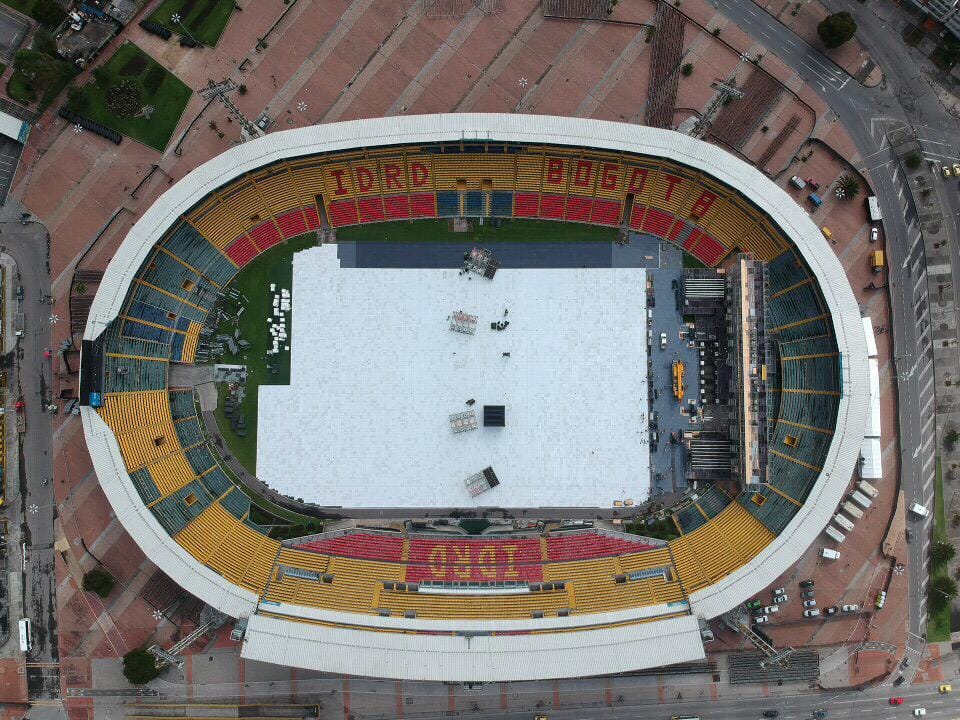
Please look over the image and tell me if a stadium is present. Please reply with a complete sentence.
Yes, there's a stadium here.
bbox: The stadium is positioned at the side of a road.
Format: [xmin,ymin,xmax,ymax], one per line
[79,112,871,682]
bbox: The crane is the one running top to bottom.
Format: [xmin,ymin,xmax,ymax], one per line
[668,362,688,408]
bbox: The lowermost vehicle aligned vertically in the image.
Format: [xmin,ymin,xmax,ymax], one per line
[13,619,29,655]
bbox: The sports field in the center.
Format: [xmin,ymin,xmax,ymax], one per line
[190,218,712,543]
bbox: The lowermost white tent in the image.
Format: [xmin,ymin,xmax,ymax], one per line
[855,437,883,478]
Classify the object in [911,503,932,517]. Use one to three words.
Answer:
vehicle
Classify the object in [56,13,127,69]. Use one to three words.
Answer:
house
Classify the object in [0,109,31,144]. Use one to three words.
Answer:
building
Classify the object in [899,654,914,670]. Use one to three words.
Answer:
car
